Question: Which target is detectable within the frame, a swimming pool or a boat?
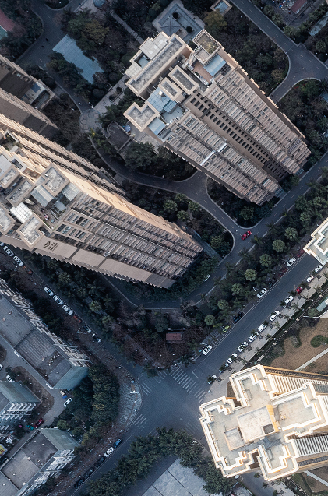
swimming pool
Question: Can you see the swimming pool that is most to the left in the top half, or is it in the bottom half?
top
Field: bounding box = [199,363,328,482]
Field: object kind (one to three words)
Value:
building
